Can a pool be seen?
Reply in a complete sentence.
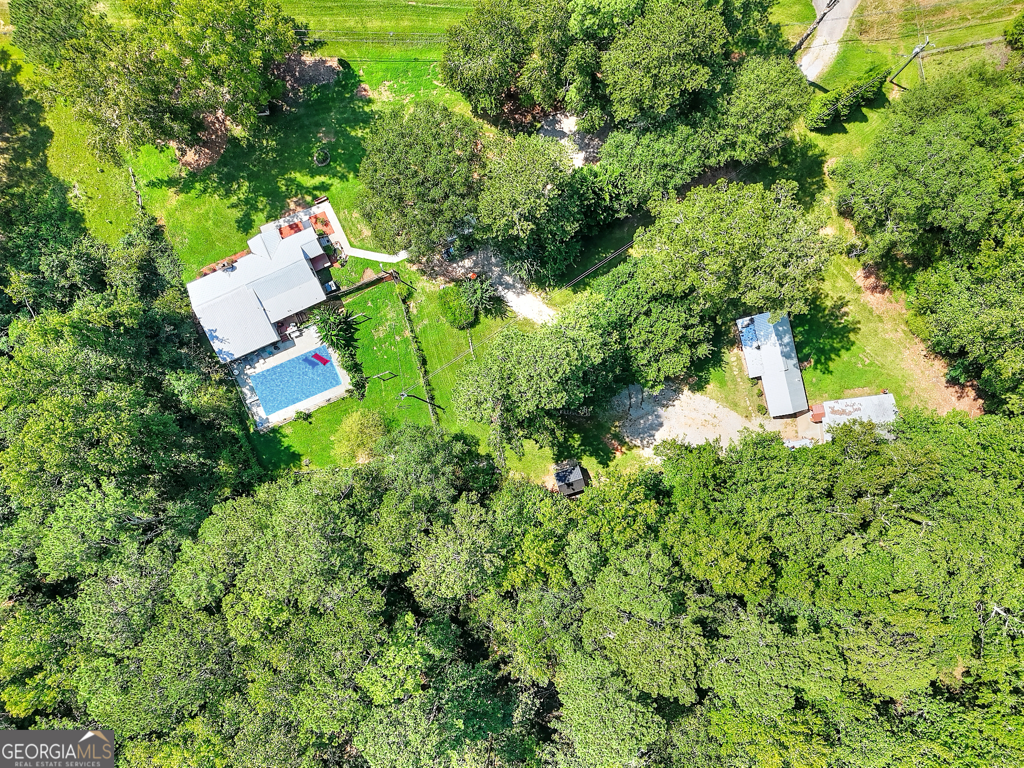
Yes, you can see a pool in this photo.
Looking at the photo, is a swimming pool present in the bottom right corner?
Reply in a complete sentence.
No, I see no swimming pool in the bottom right corner.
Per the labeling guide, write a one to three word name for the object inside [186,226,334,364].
building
